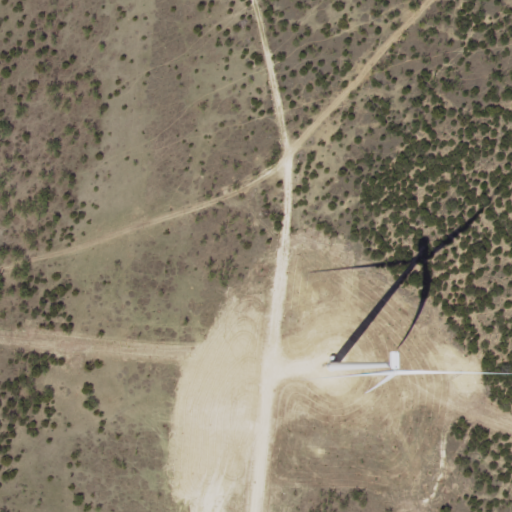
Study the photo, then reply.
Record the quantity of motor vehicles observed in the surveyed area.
0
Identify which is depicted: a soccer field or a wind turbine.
wind turbine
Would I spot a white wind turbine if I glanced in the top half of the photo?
No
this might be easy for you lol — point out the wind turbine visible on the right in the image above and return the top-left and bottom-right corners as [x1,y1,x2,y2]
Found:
[296,351,510,392]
